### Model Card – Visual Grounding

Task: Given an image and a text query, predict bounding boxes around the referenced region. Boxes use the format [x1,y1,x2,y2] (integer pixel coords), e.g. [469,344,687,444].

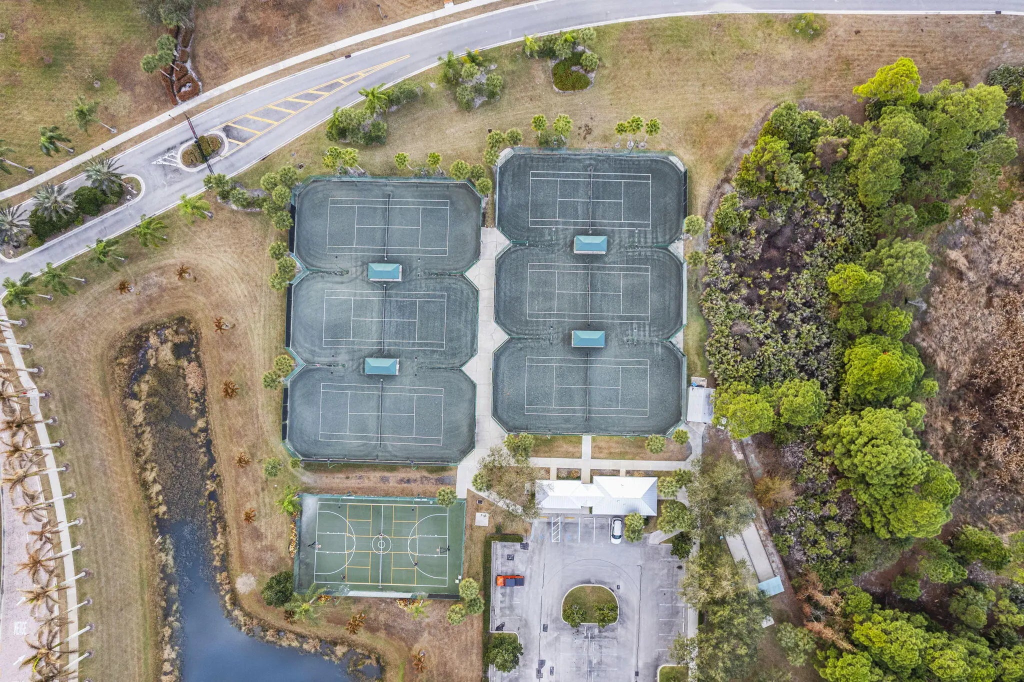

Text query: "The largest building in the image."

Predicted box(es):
[535,476,657,516]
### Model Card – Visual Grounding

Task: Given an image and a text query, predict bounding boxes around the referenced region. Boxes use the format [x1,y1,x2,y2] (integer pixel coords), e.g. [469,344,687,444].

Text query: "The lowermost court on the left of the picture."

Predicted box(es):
[297,499,464,594]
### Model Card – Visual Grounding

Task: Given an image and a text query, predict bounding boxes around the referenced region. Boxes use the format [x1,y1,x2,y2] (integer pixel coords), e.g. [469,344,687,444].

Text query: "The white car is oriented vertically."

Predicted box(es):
[611,518,623,544]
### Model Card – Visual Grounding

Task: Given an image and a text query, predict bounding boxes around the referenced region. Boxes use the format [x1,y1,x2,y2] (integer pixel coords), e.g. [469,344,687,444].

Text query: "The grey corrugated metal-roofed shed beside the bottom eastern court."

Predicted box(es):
[686,387,715,423]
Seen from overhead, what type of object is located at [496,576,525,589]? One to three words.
vehicle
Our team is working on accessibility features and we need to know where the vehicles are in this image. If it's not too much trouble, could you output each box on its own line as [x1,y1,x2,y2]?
[611,518,623,544]
[496,576,525,589]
